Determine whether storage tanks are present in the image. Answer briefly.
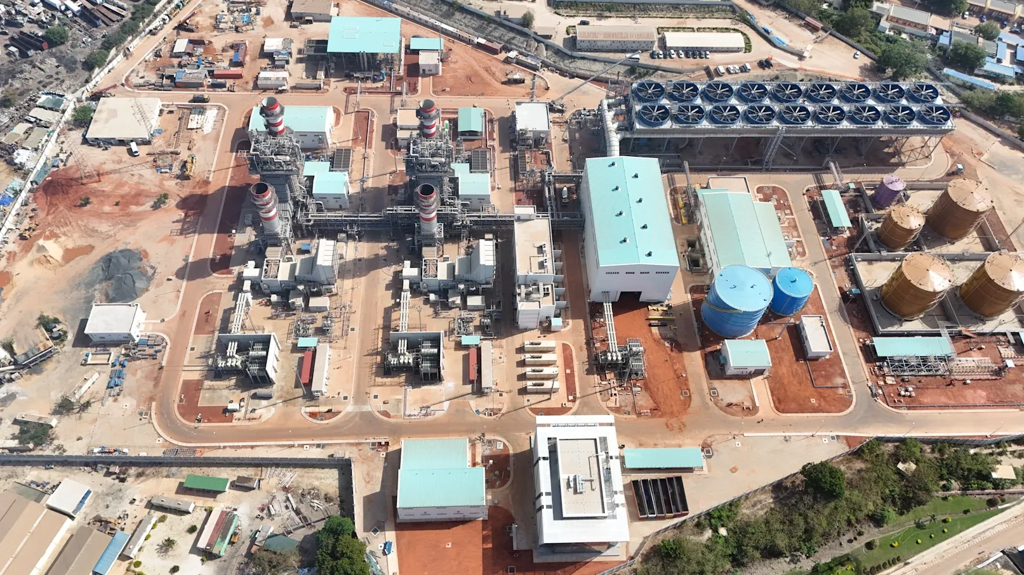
Yes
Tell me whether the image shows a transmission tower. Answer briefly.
Yes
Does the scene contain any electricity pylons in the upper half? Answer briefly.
Yes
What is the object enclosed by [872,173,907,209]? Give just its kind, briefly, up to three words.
storage tank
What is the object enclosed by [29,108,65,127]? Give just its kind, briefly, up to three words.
shed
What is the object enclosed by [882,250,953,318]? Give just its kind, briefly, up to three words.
storage tank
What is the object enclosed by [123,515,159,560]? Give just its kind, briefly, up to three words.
building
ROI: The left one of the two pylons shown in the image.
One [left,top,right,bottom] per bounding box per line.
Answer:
[51,122,102,186]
